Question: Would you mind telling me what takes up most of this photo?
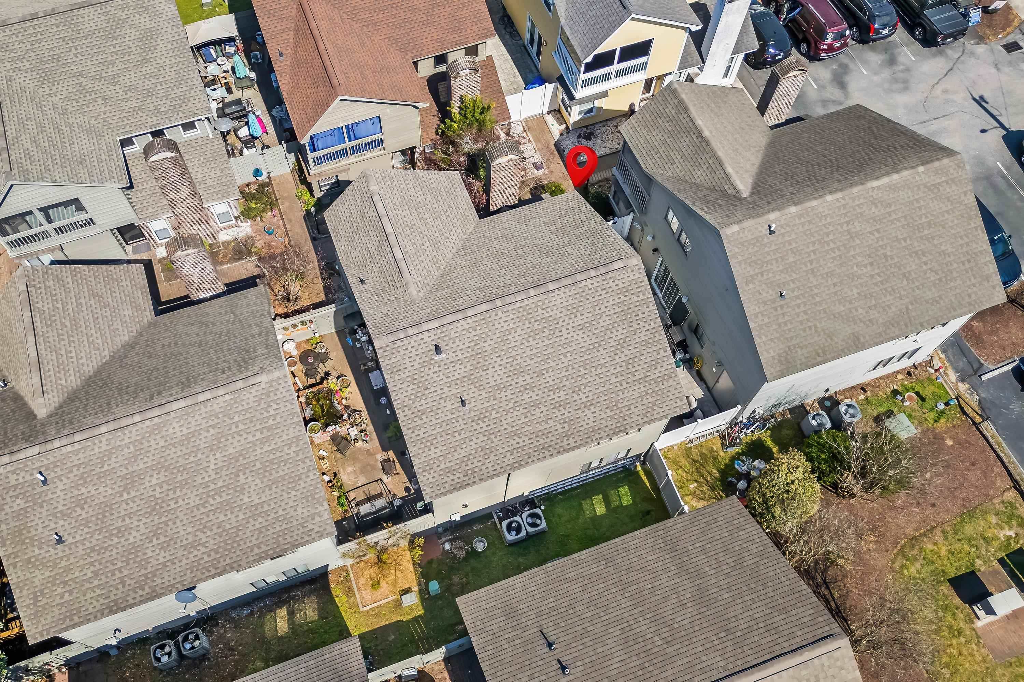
buildings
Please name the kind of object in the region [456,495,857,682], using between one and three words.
house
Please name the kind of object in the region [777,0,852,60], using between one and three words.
car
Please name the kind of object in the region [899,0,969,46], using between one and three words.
truck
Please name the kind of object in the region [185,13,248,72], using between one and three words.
tent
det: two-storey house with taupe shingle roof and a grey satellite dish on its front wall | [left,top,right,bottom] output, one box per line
[0,228,347,645]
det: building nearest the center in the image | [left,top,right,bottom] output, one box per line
[325,139,689,531]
